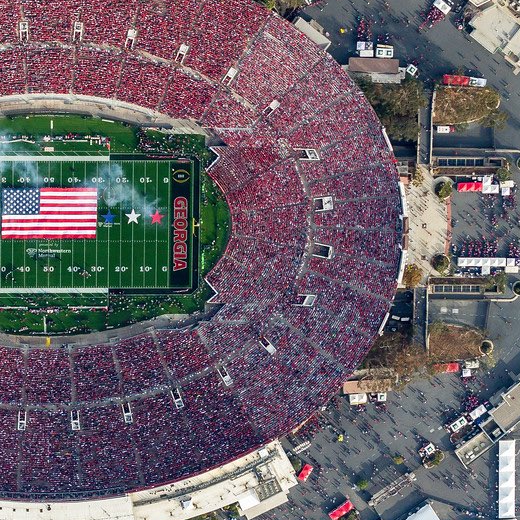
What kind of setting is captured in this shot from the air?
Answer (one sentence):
The picture captures a sports ground.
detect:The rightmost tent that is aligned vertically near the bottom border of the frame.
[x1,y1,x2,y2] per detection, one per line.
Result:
[498,439,514,518]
